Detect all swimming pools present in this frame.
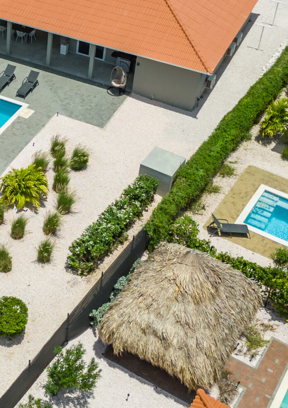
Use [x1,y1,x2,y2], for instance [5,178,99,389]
[0,97,27,134]
[262,364,288,408]
[236,184,288,243]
